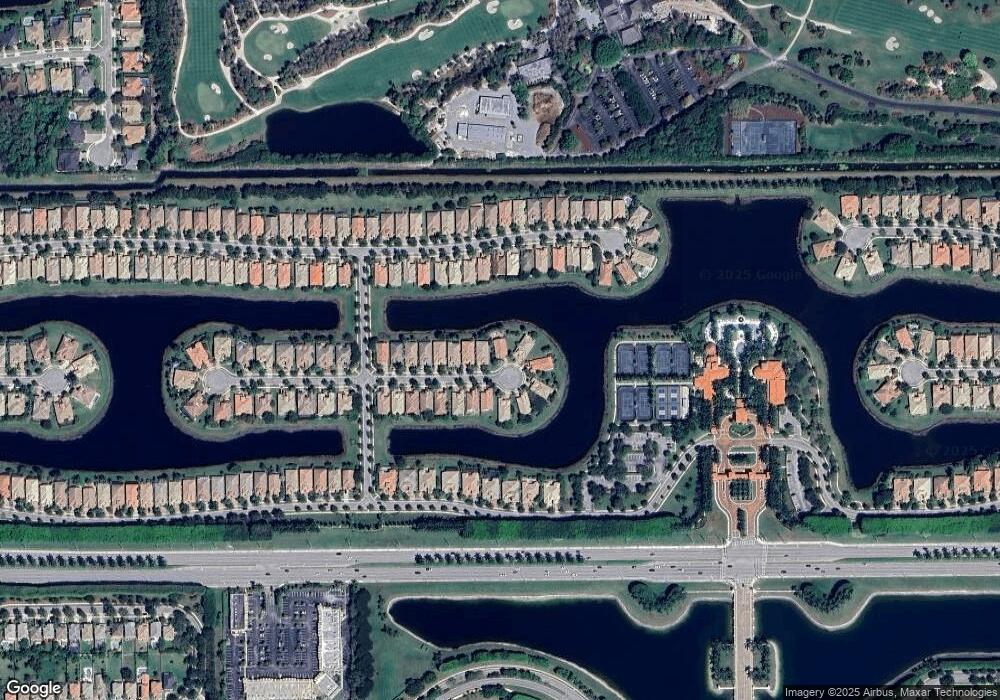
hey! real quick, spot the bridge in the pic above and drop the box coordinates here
[717,581,769,700]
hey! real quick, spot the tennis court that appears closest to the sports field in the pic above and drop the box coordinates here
[783,120,797,154]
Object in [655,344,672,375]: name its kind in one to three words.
tennis court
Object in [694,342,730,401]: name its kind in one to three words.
building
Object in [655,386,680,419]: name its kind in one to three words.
sports court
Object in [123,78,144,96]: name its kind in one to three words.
house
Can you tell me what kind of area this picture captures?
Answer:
residential area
